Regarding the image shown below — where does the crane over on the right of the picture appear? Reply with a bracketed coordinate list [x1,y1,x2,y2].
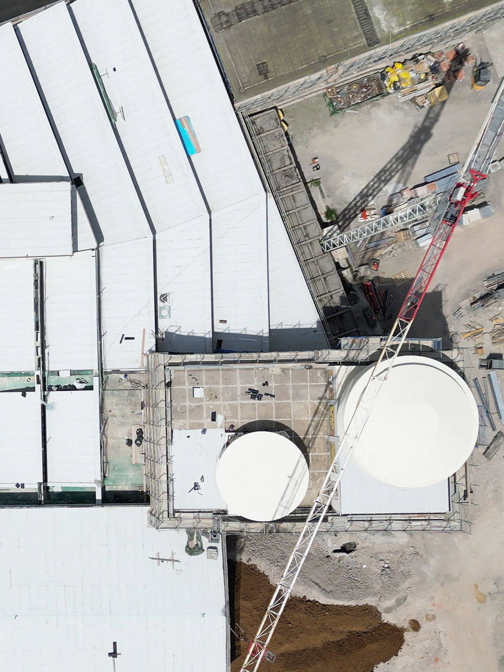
[235,71,504,672]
